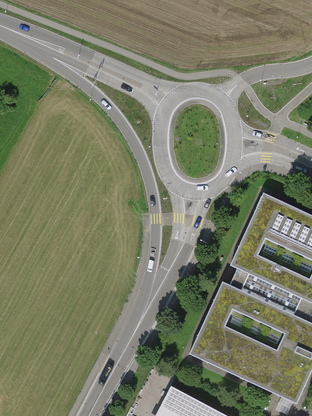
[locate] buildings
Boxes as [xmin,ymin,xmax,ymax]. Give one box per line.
[190,282,312,402]
[155,386,228,416]
[228,194,312,303]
